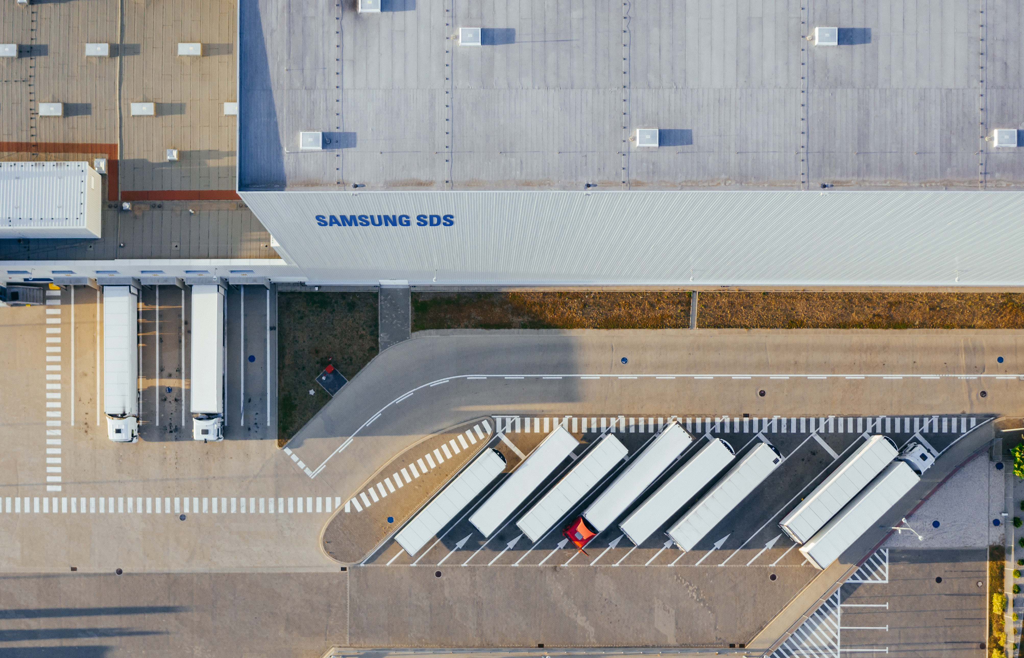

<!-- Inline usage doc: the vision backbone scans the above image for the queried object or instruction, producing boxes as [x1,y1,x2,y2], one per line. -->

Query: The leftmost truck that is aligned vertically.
[104,285,139,446]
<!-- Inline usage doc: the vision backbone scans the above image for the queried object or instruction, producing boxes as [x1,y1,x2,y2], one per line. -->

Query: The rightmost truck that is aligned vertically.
[191,285,224,444]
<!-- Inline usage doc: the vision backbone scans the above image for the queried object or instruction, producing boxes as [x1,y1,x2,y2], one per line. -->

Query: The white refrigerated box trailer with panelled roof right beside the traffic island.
[394,448,506,556]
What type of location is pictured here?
industrial area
